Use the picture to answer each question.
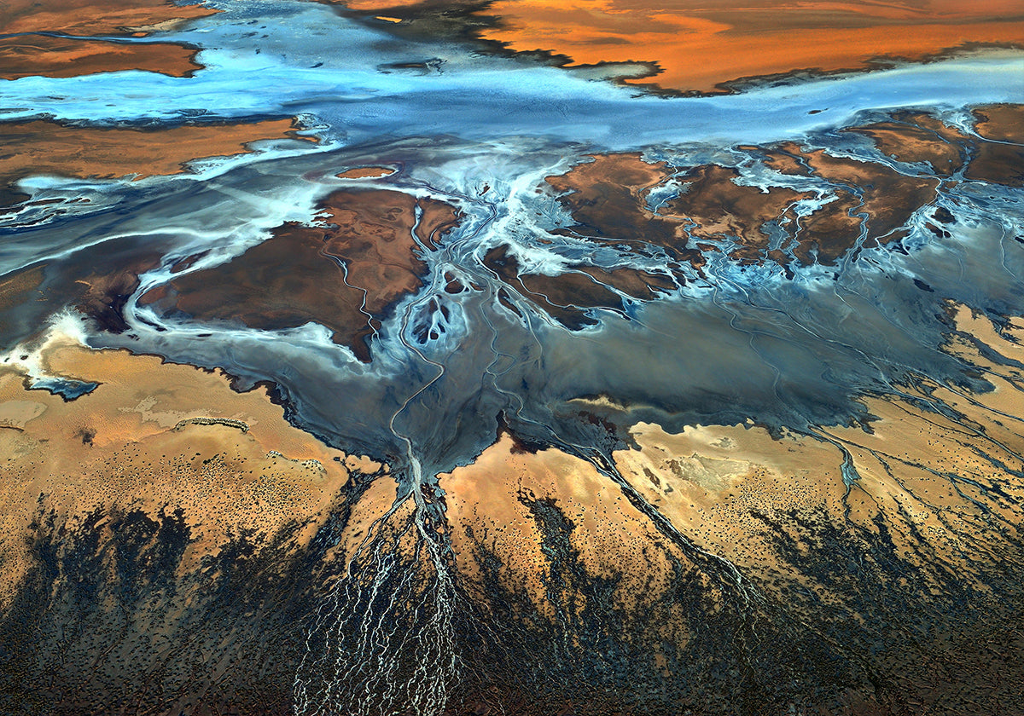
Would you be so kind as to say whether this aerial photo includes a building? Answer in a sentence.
No, this view has no building in it.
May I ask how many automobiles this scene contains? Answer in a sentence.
I count no automobiles.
